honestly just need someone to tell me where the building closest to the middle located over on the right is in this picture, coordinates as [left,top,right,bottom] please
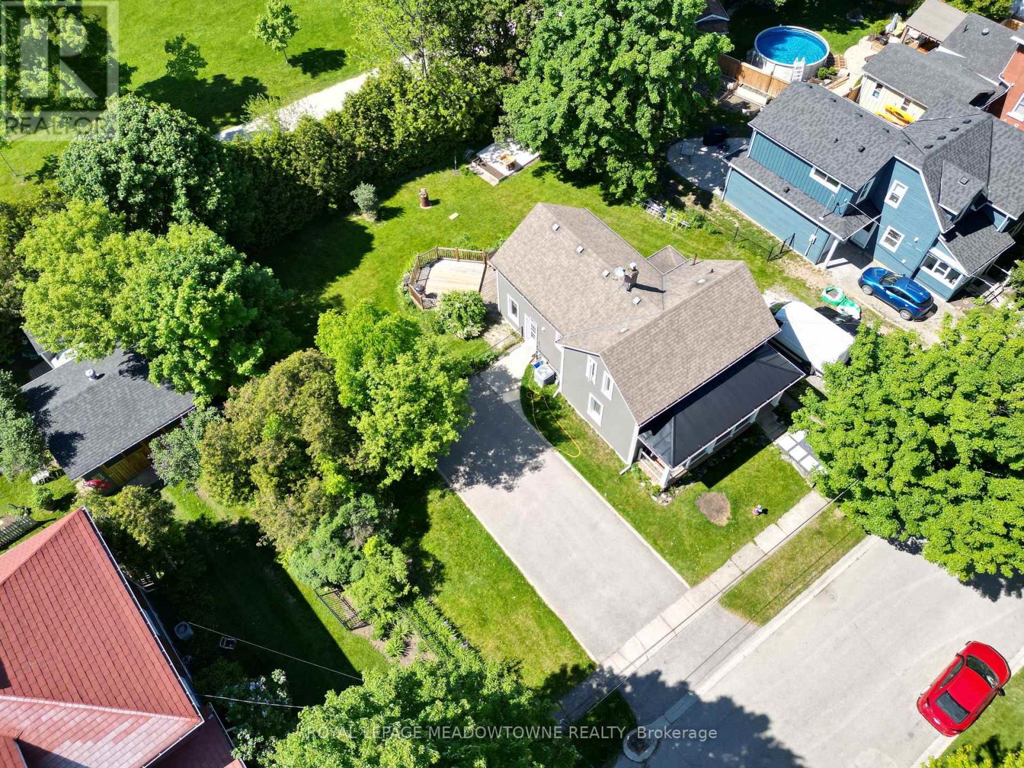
[485,203,805,491]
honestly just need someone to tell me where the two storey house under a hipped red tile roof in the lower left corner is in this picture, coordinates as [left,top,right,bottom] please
[0,507,250,768]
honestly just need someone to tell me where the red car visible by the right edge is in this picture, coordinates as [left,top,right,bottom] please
[914,641,1015,738]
